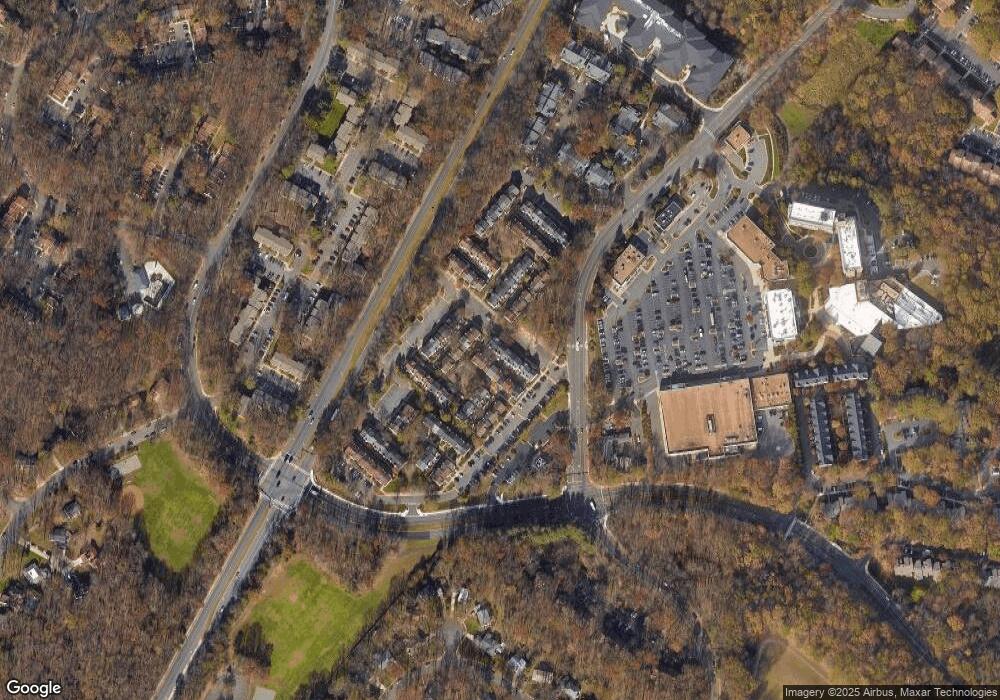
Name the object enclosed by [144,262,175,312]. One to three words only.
house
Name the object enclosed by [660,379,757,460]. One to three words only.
building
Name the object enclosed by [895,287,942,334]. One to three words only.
building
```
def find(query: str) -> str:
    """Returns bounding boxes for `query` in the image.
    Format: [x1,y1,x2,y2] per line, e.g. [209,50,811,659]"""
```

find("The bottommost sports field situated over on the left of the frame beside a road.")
[236,540,436,700]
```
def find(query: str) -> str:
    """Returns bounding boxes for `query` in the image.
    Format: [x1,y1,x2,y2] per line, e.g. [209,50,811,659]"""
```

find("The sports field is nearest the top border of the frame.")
[120,439,222,572]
